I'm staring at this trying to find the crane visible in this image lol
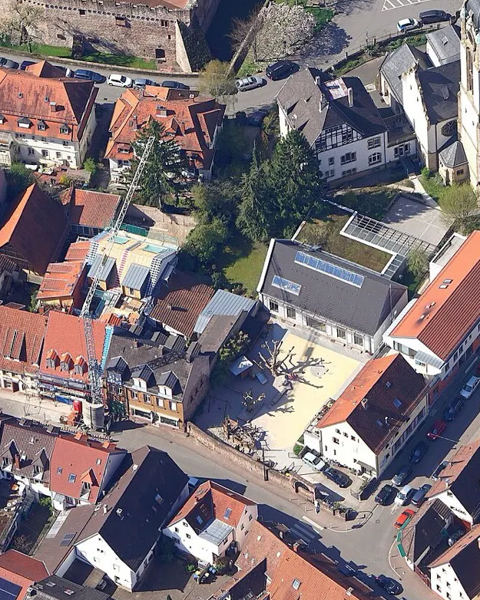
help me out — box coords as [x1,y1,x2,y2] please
[70,137,152,432]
